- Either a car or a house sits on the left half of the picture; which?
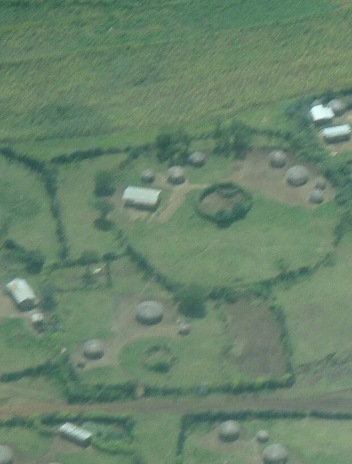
house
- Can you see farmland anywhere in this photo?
Yes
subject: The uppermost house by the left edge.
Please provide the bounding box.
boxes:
[5,278,36,311]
